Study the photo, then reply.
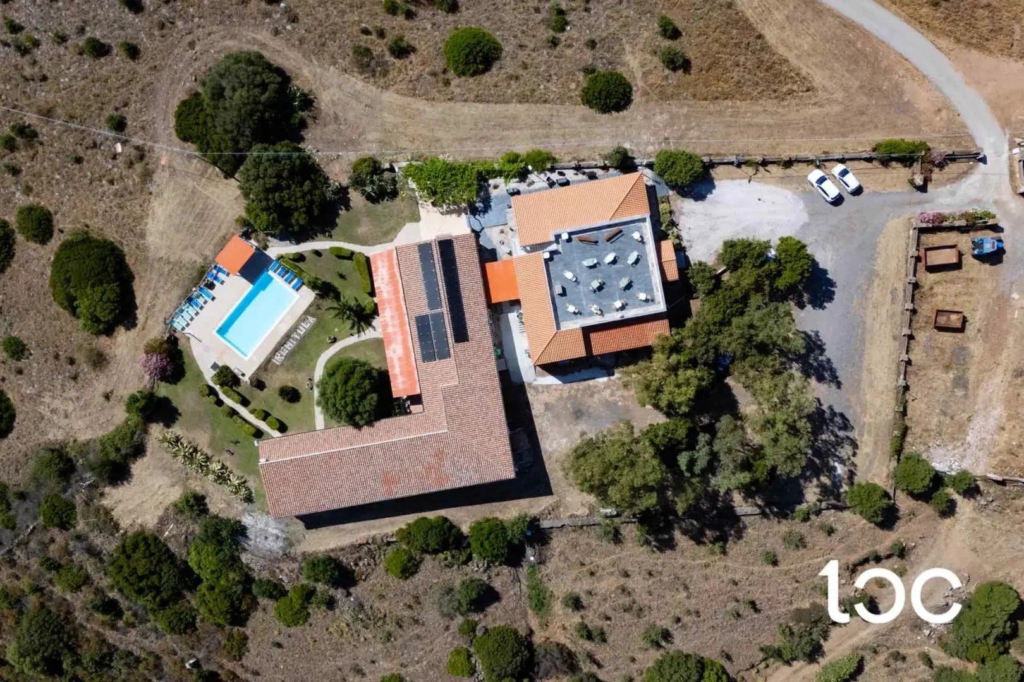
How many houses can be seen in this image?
2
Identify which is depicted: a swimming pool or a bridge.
swimming pool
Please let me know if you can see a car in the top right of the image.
Yes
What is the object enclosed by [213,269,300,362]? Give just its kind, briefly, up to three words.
swimming pool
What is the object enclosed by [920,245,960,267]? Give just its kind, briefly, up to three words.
trailer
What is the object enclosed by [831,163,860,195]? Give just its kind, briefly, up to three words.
car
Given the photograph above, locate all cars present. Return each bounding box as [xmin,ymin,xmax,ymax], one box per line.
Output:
[807,168,841,205]
[831,163,860,195]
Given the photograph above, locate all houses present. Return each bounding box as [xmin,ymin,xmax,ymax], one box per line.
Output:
[511,171,669,365]
[257,234,515,518]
